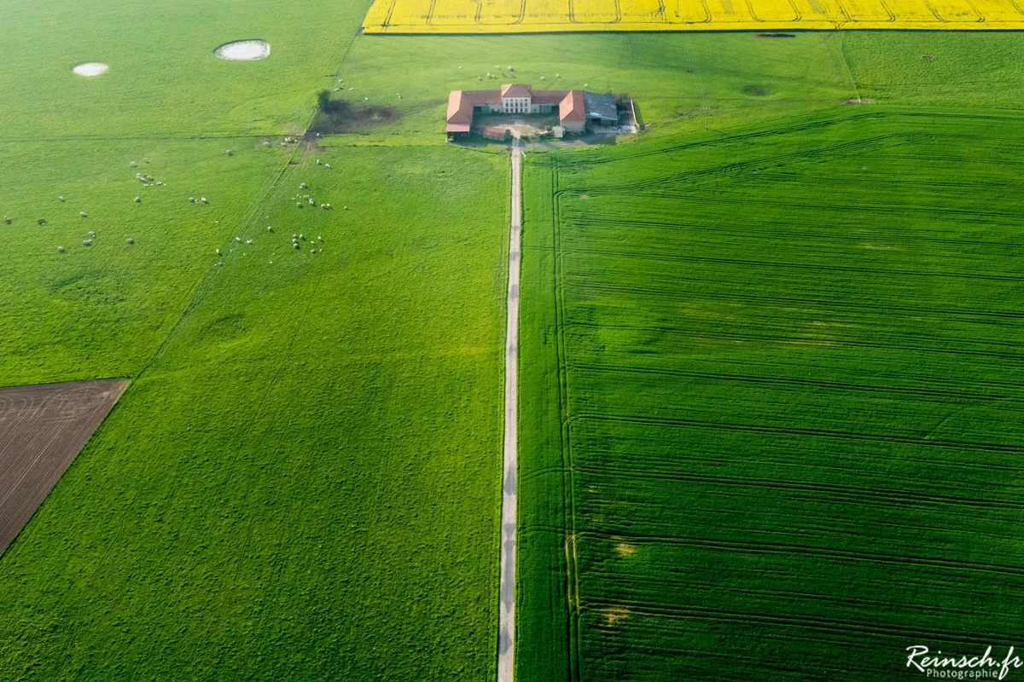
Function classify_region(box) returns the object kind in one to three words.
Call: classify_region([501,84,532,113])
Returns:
house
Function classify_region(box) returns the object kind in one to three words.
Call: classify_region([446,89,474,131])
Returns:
barn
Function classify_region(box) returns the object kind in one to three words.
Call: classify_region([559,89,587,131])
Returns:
barn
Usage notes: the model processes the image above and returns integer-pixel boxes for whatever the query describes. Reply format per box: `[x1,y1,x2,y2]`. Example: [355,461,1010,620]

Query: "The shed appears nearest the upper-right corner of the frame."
[583,90,620,126]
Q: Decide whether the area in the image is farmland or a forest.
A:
farmland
